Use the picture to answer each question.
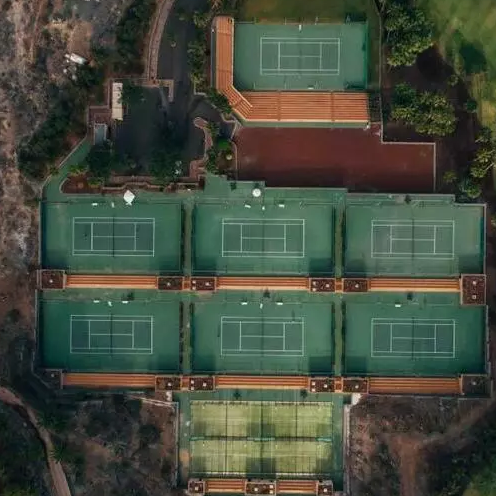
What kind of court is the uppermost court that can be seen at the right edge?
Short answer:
tennis court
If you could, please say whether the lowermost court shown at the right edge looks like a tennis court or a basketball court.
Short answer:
tennis court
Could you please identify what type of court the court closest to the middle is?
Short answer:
tennis court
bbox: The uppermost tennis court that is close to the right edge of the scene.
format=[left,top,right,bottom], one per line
[346,204,480,276]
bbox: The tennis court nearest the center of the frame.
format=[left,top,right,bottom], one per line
[194,203,335,275]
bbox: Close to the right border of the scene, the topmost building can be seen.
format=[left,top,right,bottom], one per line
[460,274,486,304]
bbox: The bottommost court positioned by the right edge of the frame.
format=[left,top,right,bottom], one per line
[345,304,483,377]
